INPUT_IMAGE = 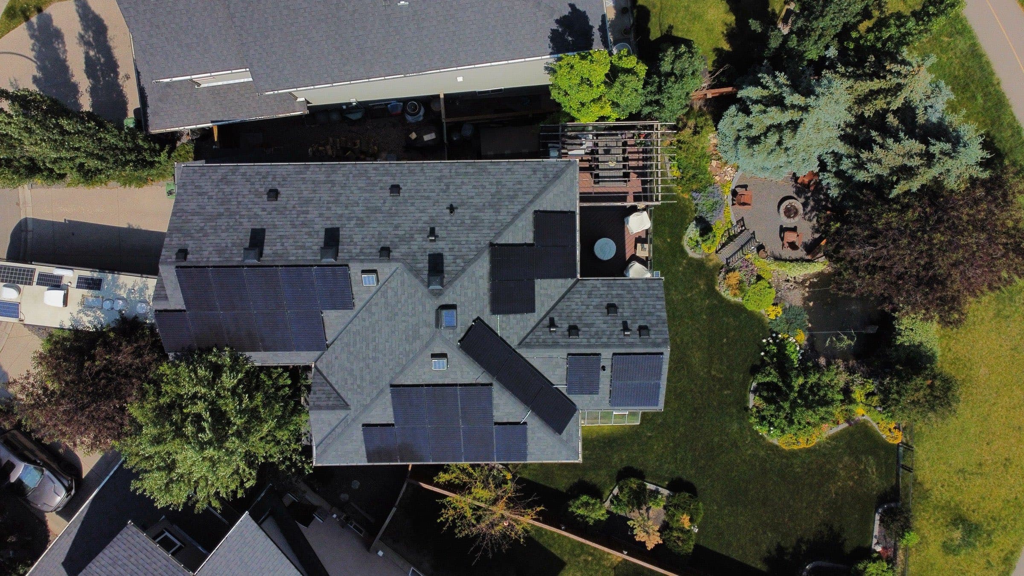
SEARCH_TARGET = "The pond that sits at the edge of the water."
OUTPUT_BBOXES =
[805,273,897,359]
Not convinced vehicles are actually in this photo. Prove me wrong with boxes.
[0,256,160,339]
[0,416,86,519]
